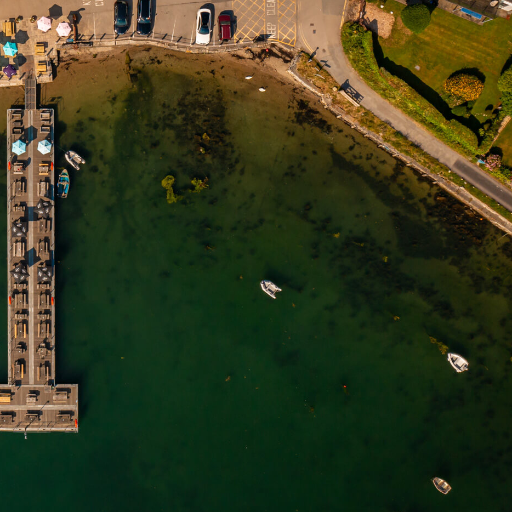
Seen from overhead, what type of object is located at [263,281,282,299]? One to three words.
boat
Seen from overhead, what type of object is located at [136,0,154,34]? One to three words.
car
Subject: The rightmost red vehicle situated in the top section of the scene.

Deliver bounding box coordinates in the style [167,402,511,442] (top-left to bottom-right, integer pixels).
[217,12,234,45]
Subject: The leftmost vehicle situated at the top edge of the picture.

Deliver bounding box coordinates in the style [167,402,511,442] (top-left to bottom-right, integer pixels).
[114,1,131,36]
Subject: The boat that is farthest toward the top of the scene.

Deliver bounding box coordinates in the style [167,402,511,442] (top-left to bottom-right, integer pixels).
[66,151,86,171]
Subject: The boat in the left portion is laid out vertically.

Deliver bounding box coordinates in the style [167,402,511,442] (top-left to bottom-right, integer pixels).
[57,170,69,197]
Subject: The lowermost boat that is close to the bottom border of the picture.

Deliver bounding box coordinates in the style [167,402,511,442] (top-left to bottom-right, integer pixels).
[435,479,453,497]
